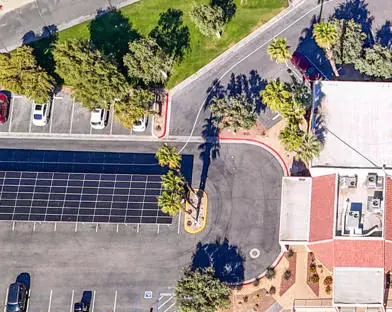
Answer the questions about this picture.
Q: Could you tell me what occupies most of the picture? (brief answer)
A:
paved ground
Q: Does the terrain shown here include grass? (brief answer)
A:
Yes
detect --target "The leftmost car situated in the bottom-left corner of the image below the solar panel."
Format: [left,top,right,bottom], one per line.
[4,283,26,312]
